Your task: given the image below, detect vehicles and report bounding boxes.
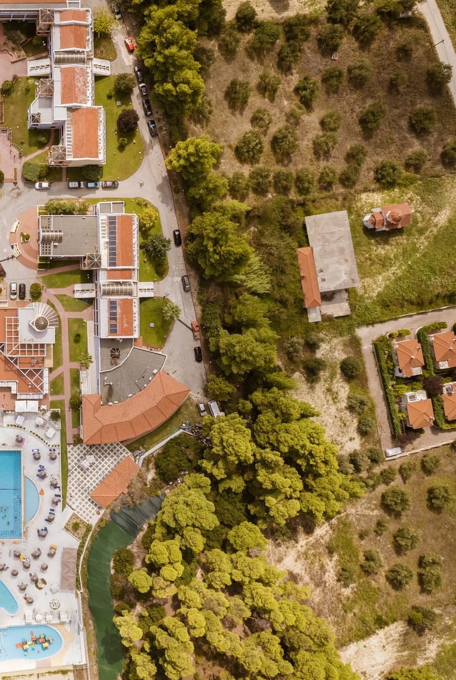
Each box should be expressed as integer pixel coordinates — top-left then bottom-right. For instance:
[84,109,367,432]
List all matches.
[142,99,152,116]
[68,182,83,189]
[172,230,181,246]
[139,83,148,98]
[86,182,101,189]
[182,275,190,291]
[147,120,156,136]
[207,399,218,416]
[0,263,7,278]
[384,448,400,456]
[197,401,206,415]
[102,182,118,189]
[193,347,201,363]
[178,319,200,340]
[134,65,144,82]
[35,183,50,190]
[19,283,25,300]
[10,283,16,300]
[124,37,134,52]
